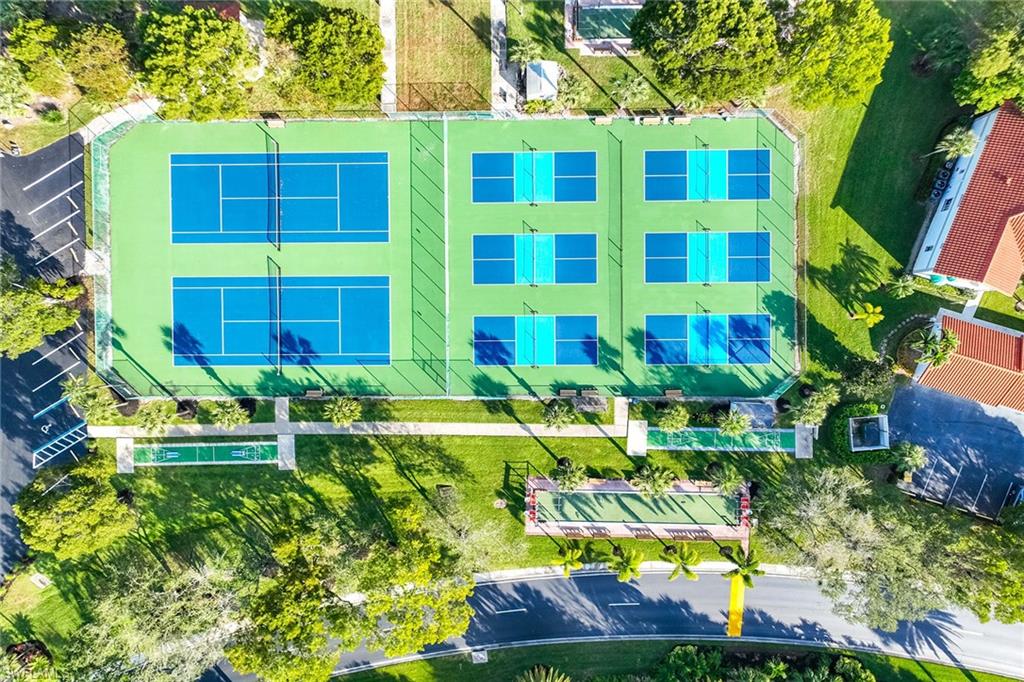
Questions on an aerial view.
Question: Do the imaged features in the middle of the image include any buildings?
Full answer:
No, there is no building in the middle of the image.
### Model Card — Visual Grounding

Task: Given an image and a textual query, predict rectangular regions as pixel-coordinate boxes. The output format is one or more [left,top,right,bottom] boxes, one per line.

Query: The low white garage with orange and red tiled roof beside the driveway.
[908,307,1024,412]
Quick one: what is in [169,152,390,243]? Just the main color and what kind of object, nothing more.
blue tennis court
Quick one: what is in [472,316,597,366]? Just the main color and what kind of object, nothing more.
blue sports court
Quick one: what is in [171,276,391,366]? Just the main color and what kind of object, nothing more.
blue tennis court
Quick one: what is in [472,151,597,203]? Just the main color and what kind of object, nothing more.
blue sports court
